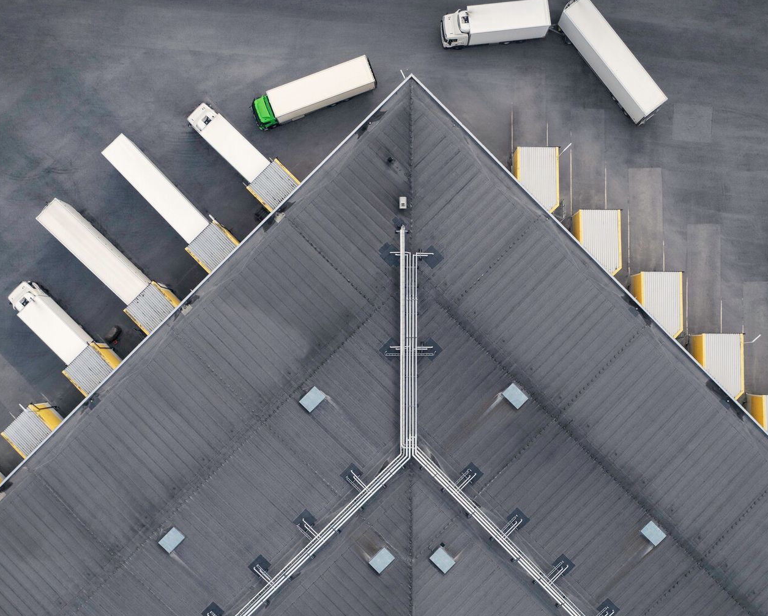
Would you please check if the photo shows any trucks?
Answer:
Yes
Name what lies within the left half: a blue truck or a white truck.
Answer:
white truck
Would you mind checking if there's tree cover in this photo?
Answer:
No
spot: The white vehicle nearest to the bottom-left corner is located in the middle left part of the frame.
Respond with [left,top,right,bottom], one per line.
[7,279,96,364]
